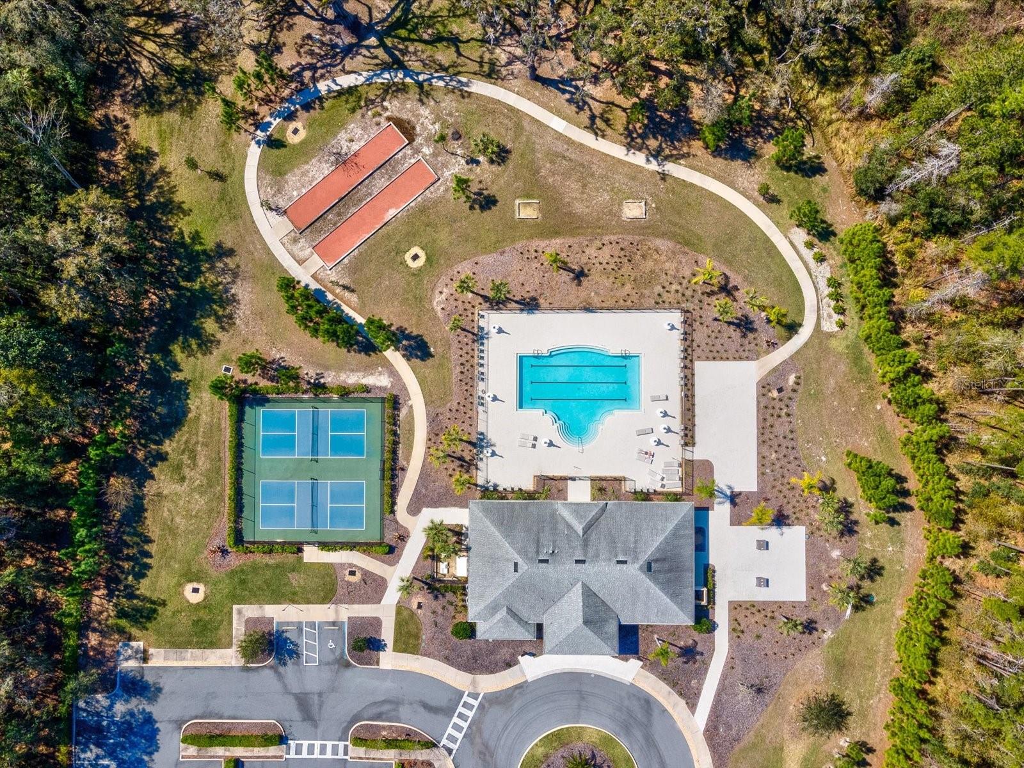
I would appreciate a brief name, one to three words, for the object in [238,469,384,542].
sports court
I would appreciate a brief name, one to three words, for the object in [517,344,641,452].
swimming pool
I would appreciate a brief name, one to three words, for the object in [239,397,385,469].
sports court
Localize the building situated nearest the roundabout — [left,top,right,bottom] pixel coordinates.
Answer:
[468,500,695,656]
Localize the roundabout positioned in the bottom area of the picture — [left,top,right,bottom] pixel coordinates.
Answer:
[464,671,692,768]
